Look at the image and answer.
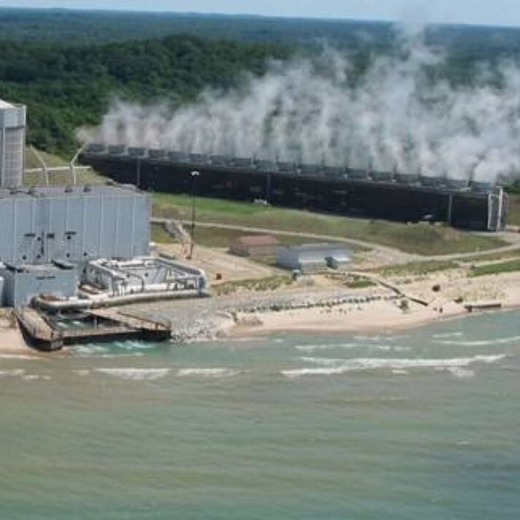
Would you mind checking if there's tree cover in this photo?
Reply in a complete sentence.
Yes, the picture does contain tree cover.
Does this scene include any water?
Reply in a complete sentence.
Yes, the picture does contain water.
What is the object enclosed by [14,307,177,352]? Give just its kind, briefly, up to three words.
pier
